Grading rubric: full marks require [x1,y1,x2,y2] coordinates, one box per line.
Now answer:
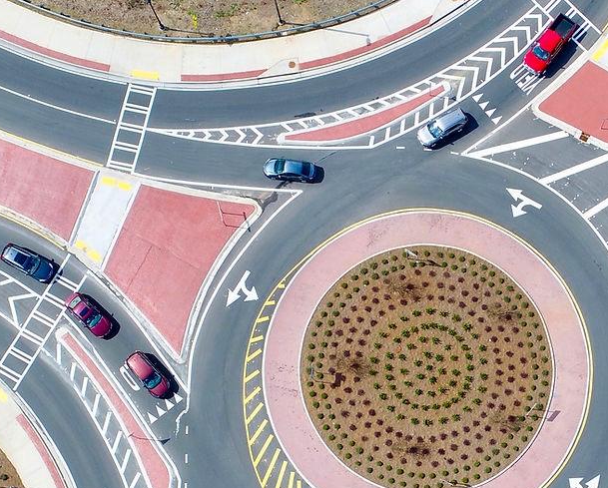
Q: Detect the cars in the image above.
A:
[263,154,315,180]
[0,242,51,281]
[416,106,467,143]
[121,352,167,399]
[59,294,109,339]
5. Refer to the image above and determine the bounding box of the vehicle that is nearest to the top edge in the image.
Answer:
[526,8,578,67]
